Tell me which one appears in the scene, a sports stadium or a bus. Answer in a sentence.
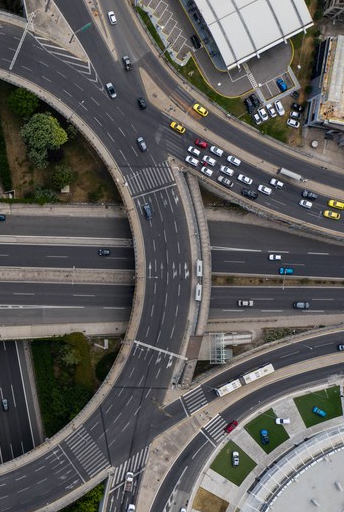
I can see a bus in this picture.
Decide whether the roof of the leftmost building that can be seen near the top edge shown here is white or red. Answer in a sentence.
The color of the roof of the leftmost building that can be seen near the top edge is white.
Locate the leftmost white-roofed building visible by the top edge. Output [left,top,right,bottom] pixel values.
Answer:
[184,0,316,73]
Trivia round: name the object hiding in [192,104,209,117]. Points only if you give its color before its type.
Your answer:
yellow vehicle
